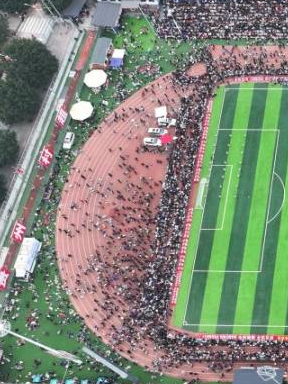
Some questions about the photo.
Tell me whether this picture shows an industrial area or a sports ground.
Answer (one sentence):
It's a sports ground.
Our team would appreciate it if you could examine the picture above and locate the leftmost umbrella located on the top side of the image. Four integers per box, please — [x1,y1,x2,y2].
[71,101,93,120]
